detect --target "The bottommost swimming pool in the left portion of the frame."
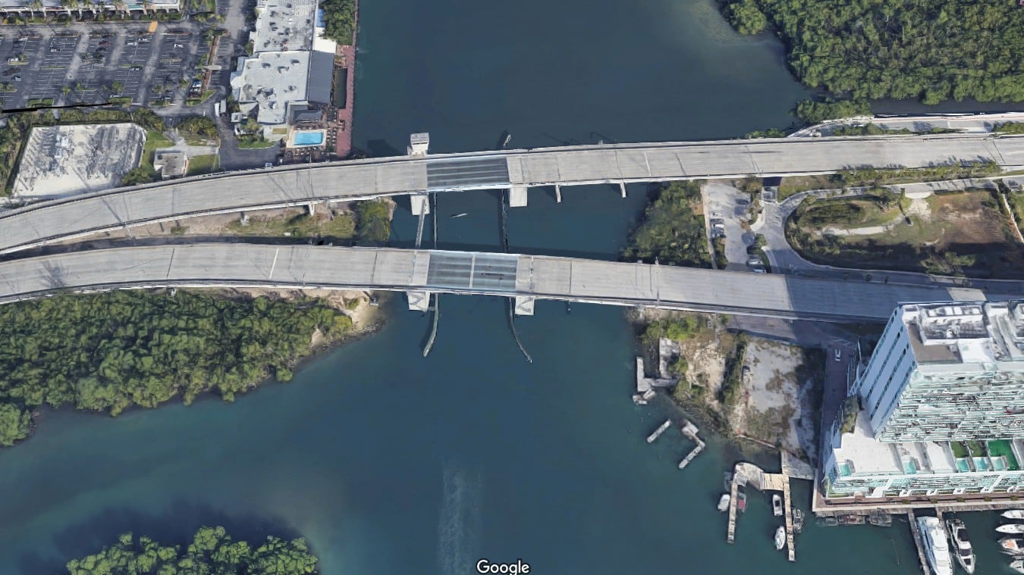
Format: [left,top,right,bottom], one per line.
[285,127,327,150]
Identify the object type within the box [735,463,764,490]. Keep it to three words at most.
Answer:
pier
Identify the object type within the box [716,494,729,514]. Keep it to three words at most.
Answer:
boat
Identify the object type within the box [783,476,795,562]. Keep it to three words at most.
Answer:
pier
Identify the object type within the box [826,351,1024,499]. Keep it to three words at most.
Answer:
building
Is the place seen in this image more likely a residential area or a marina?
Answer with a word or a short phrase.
marina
